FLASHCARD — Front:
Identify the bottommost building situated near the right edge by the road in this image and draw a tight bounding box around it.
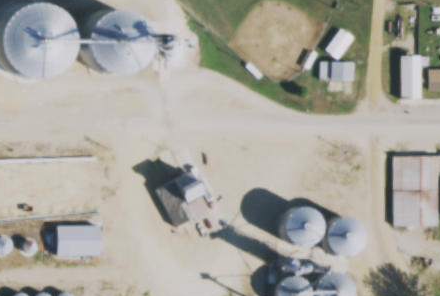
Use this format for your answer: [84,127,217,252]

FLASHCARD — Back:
[391,156,440,226]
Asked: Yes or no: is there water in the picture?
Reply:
No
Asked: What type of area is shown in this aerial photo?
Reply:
industrial area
